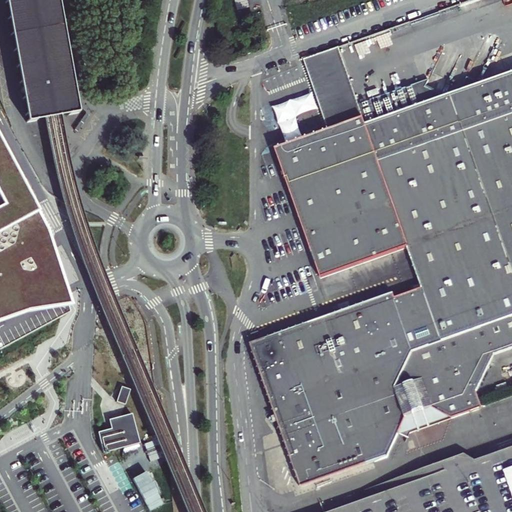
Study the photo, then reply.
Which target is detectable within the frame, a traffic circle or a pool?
traffic circle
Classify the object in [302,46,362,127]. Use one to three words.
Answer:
building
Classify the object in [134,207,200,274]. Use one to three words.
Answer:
roundabout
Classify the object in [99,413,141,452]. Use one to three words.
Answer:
house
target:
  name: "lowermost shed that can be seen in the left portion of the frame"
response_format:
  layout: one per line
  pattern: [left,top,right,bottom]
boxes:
[134,470,164,510]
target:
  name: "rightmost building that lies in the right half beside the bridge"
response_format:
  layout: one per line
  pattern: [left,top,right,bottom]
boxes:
[248,70,512,489]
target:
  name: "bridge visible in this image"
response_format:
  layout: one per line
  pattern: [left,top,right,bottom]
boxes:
[49,114,204,512]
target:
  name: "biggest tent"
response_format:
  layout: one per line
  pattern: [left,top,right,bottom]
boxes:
[271,92,318,140]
